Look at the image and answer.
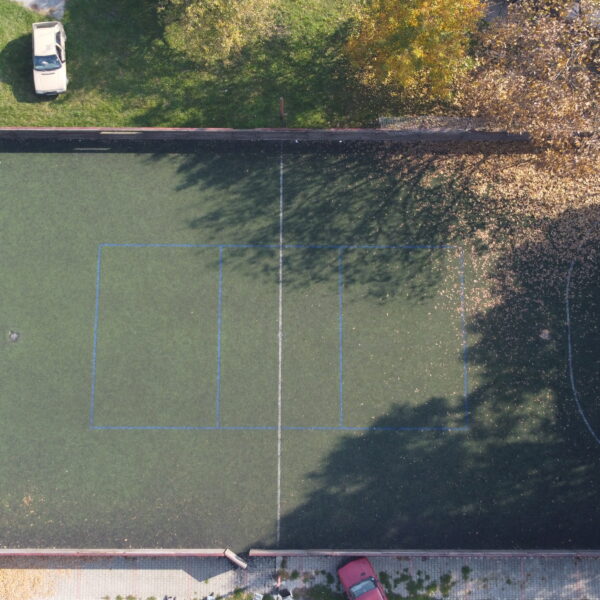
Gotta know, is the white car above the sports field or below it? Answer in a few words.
above it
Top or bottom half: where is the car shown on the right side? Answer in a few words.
bottom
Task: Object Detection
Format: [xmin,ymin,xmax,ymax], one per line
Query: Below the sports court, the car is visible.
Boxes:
[337,555,387,600]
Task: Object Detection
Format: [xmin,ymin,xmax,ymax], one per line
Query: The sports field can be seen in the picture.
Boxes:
[0,138,600,550]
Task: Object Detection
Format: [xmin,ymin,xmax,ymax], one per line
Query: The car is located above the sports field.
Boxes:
[29,24,70,98]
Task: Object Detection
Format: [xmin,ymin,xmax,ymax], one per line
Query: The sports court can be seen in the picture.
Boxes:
[91,244,468,430]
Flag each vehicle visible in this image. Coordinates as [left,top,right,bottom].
[337,555,387,600]
[29,24,70,98]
